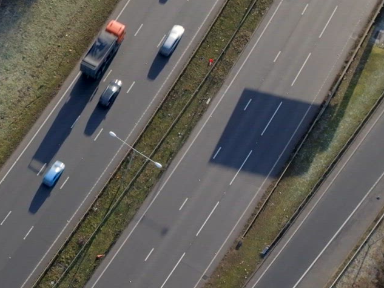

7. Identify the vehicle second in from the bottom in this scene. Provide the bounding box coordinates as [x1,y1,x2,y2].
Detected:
[99,79,123,109]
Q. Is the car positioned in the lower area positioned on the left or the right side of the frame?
left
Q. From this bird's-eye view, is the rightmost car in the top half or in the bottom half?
top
